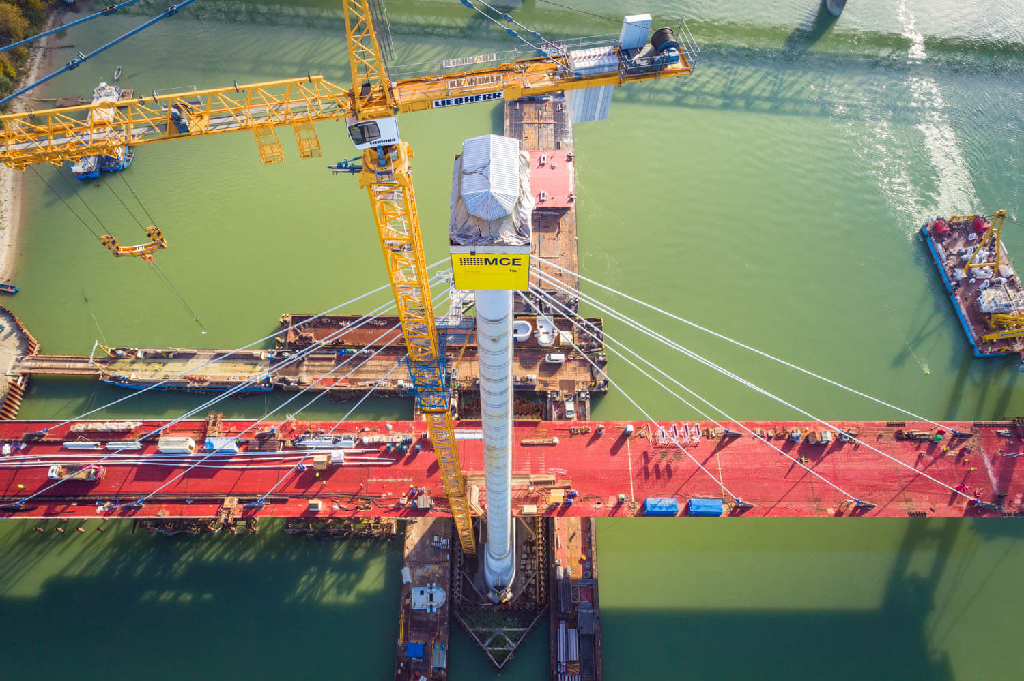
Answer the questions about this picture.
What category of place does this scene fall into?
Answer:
port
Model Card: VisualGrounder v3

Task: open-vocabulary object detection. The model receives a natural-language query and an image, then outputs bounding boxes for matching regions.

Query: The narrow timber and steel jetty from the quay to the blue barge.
[15,351,112,382]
